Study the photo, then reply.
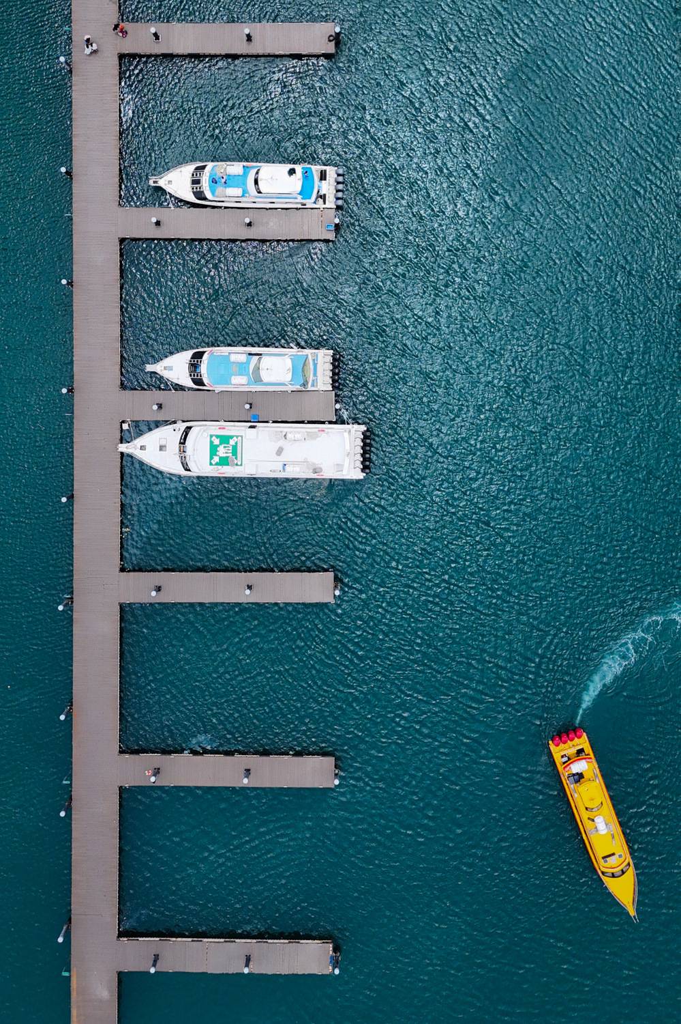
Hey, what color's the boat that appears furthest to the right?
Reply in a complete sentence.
The color of the boat that appears furthest to the right is yellow.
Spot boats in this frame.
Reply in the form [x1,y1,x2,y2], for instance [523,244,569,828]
[146,343,340,392]
[116,421,371,479]
[548,724,639,922]
[149,162,344,209]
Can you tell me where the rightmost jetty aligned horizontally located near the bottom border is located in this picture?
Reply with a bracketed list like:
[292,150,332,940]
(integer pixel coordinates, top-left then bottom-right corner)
[118,931,332,974]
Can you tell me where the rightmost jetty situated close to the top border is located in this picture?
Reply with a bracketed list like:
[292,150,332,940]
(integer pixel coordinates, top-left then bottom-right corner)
[119,23,336,60]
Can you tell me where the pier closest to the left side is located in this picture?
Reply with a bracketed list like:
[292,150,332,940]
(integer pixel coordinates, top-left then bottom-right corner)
[70,0,125,1024]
